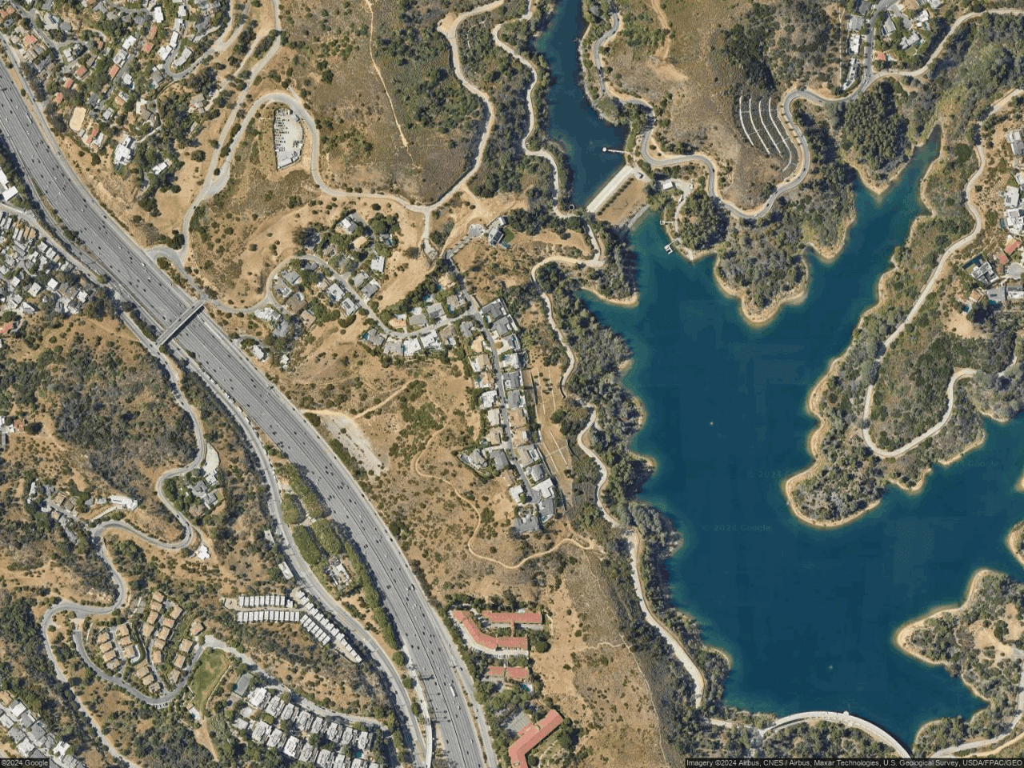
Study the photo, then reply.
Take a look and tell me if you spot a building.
Yes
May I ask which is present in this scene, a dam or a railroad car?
dam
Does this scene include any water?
Yes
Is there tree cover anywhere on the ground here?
Yes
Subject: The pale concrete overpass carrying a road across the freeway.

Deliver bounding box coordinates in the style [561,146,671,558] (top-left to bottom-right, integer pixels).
[154,294,208,348]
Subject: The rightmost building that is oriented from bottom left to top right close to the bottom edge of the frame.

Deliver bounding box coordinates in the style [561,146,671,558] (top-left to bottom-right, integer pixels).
[509,710,563,768]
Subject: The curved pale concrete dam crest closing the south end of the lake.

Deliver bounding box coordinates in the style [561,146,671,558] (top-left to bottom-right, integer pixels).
[770,711,915,768]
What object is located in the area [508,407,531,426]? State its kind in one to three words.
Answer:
house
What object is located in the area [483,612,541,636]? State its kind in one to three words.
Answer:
building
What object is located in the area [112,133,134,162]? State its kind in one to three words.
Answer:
house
